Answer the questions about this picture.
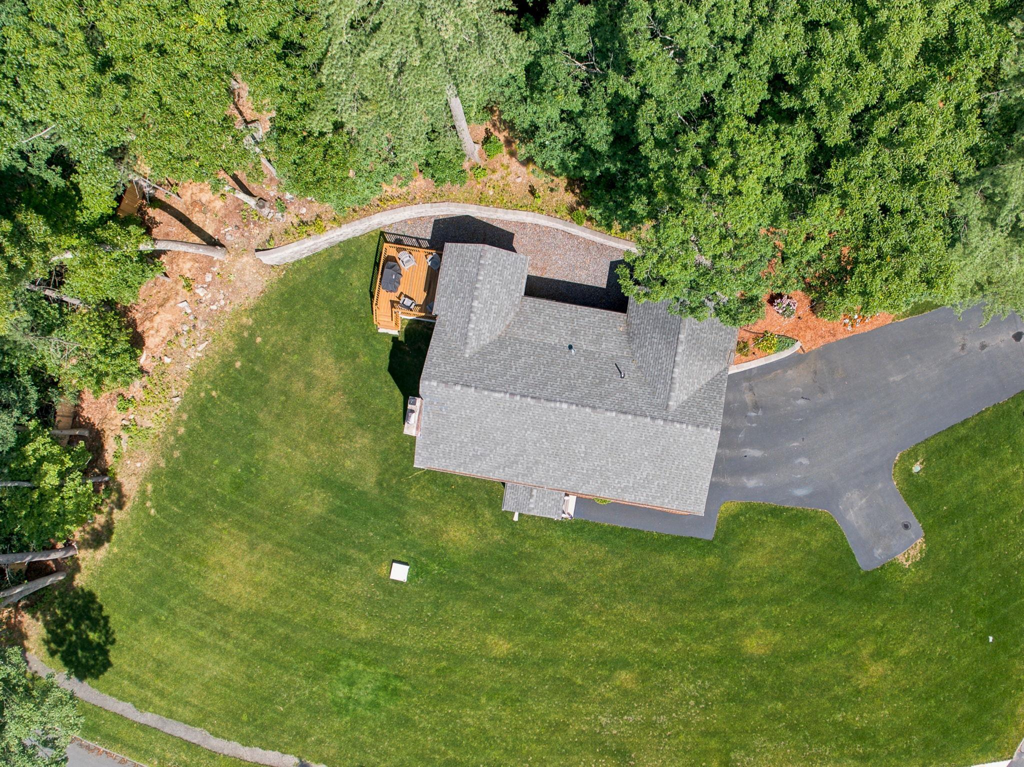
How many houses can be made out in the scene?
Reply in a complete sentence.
The picture shows 1 house.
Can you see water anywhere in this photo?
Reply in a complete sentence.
No, the scene doesn't show any water.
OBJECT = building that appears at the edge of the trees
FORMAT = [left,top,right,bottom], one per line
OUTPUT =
[403,243,742,520]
